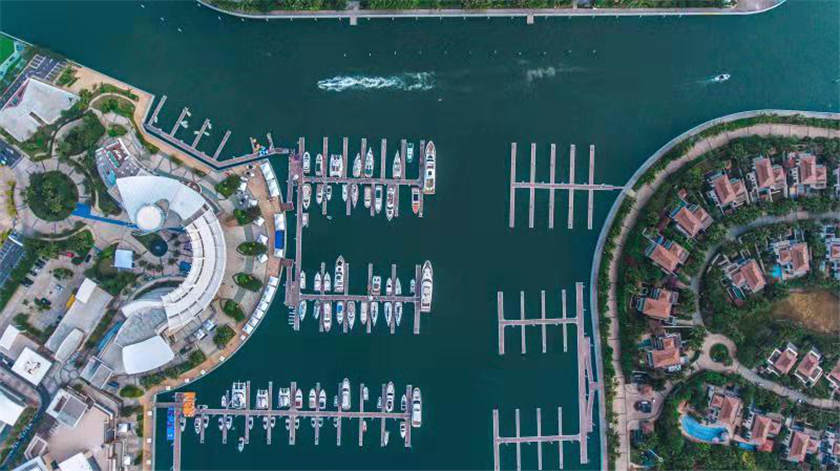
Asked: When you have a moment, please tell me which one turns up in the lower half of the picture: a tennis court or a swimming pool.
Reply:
swimming pool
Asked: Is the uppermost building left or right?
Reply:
left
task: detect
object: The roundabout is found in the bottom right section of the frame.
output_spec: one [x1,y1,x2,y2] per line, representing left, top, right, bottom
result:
[701,333,737,369]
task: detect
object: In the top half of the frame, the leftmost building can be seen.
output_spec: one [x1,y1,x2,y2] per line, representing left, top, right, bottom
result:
[0,79,84,142]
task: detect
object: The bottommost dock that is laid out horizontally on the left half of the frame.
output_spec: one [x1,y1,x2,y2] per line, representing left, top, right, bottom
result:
[182,381,413,447]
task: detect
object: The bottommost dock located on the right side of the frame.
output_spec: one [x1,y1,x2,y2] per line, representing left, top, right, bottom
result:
[491,407,581,471]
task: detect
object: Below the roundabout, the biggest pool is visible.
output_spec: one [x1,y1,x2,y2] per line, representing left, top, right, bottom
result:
[681,414,729,441]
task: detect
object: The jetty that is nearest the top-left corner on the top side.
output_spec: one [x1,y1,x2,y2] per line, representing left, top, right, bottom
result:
[146,95,290,167]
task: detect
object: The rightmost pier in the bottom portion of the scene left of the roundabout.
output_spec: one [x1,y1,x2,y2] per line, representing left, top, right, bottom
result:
[576,282,600,464]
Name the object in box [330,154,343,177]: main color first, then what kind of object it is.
white boat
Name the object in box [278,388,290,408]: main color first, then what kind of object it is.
white boat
